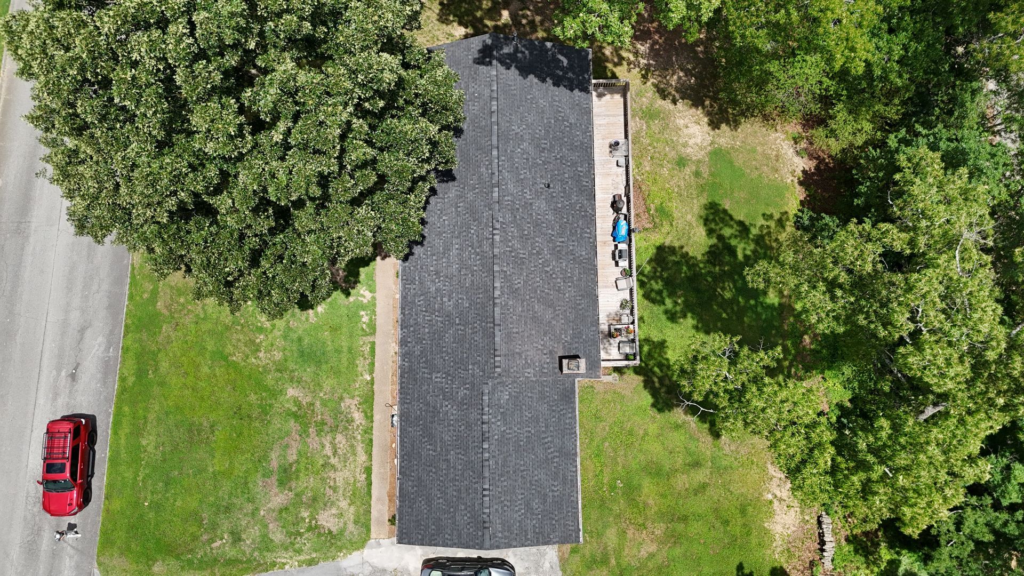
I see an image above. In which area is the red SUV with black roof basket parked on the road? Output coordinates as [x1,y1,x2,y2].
[40,415,102,516]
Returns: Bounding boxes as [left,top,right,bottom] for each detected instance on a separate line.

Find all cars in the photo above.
[421,559,516,576]
[40,415,102,516]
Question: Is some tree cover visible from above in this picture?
Yes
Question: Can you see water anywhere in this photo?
No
